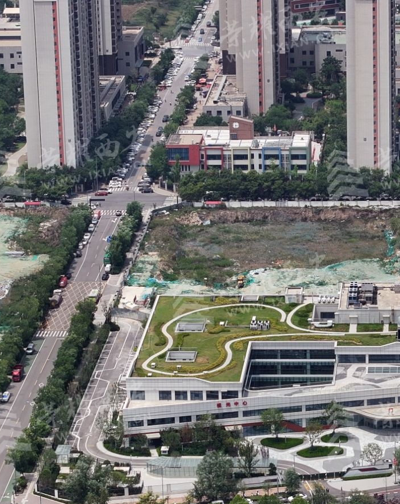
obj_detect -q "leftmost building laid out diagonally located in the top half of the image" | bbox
[100,78,129,120]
